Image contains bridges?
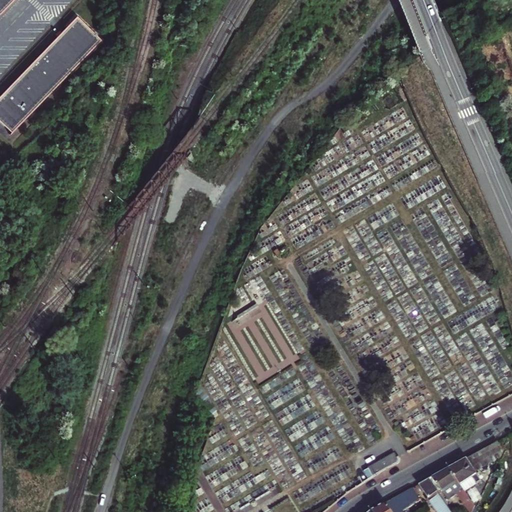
Yes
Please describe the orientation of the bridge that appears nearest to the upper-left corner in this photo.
on a diagonal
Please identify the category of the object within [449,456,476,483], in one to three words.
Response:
house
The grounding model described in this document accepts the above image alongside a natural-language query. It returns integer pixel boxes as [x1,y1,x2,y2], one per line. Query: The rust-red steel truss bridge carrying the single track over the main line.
[108,139,192,243]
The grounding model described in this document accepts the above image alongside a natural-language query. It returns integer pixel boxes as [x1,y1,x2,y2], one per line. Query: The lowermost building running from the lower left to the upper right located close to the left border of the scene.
[0,14,102,134]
